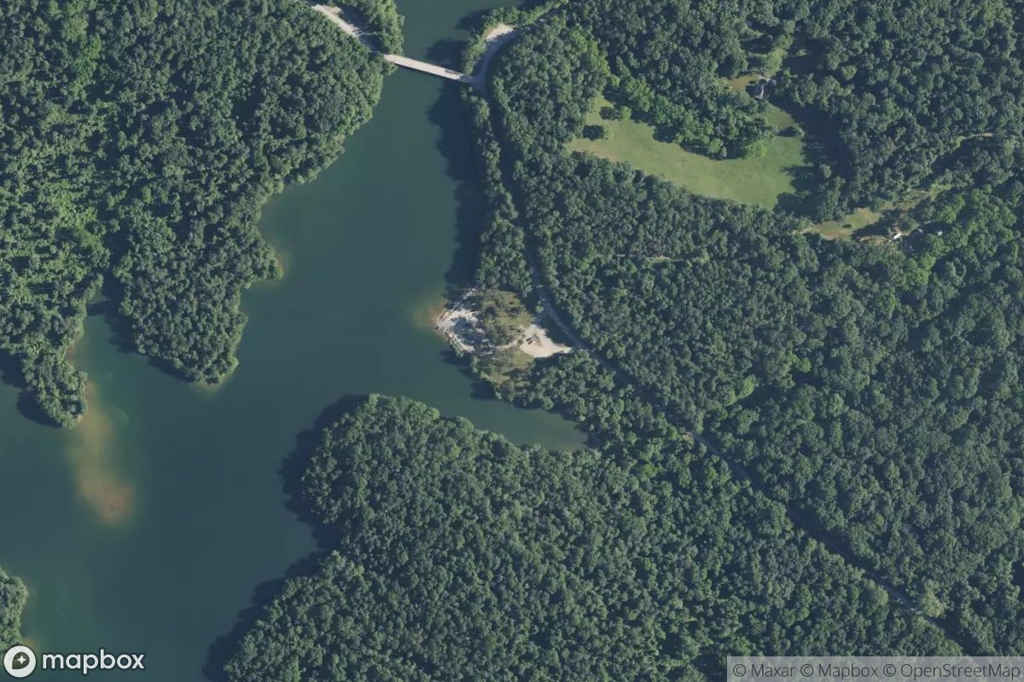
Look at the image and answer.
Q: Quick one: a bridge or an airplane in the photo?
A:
bridge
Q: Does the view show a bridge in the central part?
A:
No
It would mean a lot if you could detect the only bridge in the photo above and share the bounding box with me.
[381,51,478,84]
